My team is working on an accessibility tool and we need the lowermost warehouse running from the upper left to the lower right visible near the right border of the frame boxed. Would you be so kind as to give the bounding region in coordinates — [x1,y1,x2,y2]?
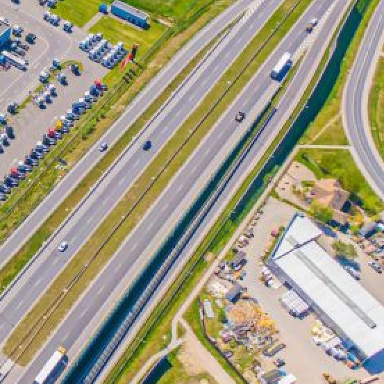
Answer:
[267,239,384,365]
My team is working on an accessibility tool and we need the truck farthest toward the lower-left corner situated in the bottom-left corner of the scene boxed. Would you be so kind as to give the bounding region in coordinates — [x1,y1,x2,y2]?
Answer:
[33,350,65,384]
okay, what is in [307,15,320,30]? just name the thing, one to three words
vehicle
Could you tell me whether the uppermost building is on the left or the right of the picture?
left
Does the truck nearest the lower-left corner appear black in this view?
No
